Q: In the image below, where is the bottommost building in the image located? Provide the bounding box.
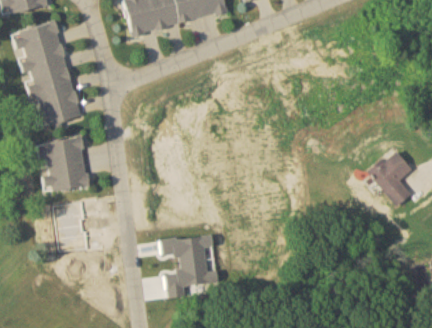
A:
[160,232,218,299]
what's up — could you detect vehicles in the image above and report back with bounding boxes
[137,257,143,268]
[412,192,424,204]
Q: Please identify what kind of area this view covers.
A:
residential area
